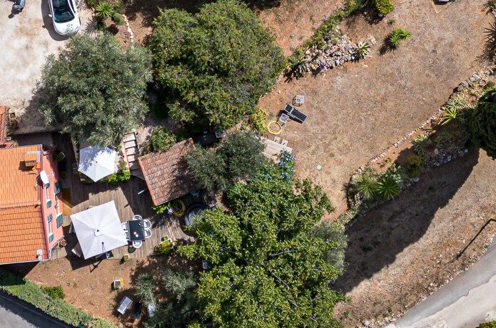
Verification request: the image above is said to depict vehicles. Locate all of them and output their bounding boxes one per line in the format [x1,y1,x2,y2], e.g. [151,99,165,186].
[50,0,83,39]
[11,0,22,10]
